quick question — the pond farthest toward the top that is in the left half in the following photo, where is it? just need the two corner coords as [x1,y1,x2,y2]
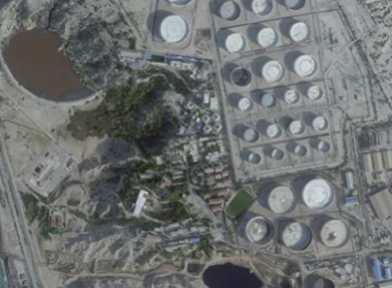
[3,30,89,101]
